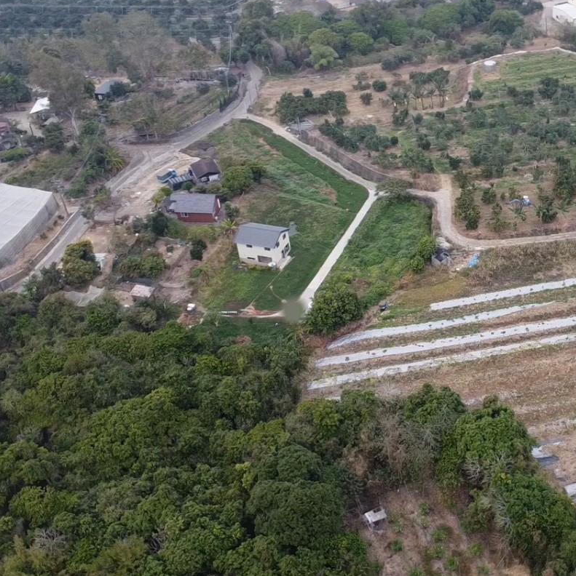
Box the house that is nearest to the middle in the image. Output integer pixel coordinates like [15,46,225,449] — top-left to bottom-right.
[232,224,298,270]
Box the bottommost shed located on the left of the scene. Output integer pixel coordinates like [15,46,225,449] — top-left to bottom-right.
[125,279,158,302]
